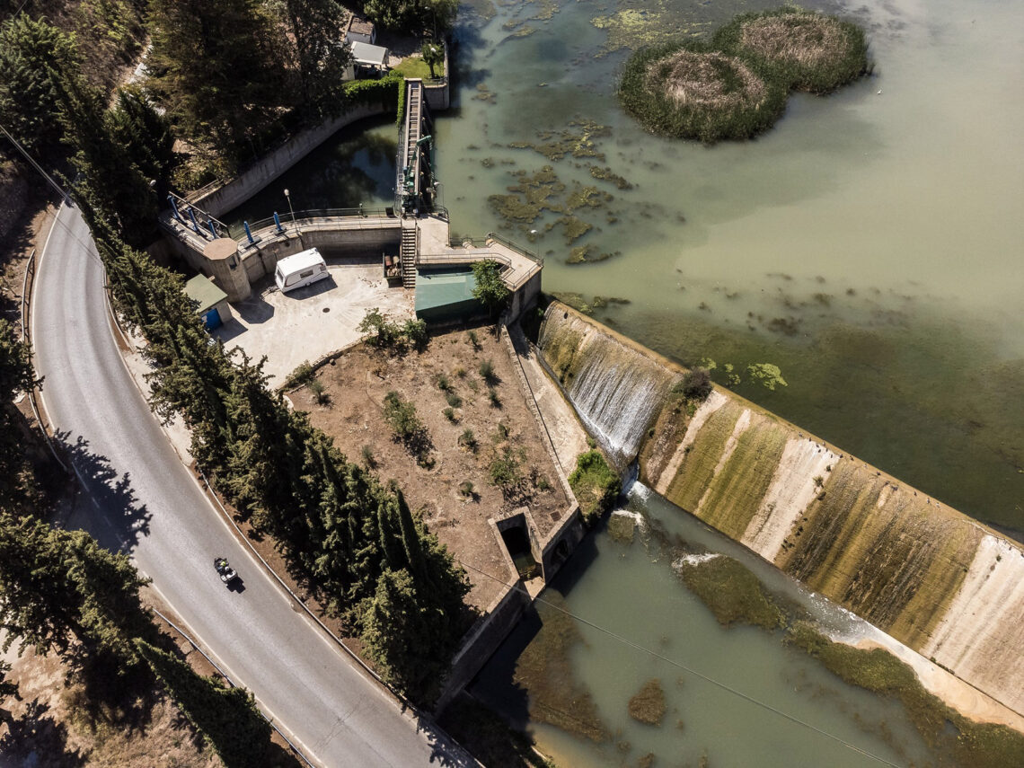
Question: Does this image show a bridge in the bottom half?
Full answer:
No, in the bottom half there is no bridge.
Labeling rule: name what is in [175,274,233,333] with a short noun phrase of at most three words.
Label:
shed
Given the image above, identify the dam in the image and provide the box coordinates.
[526,300,1024,708]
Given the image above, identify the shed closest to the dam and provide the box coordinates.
[416,266,486,329]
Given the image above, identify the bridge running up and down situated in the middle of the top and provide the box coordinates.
[399,74,429,217]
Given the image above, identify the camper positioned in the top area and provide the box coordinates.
[262,245,328,295]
